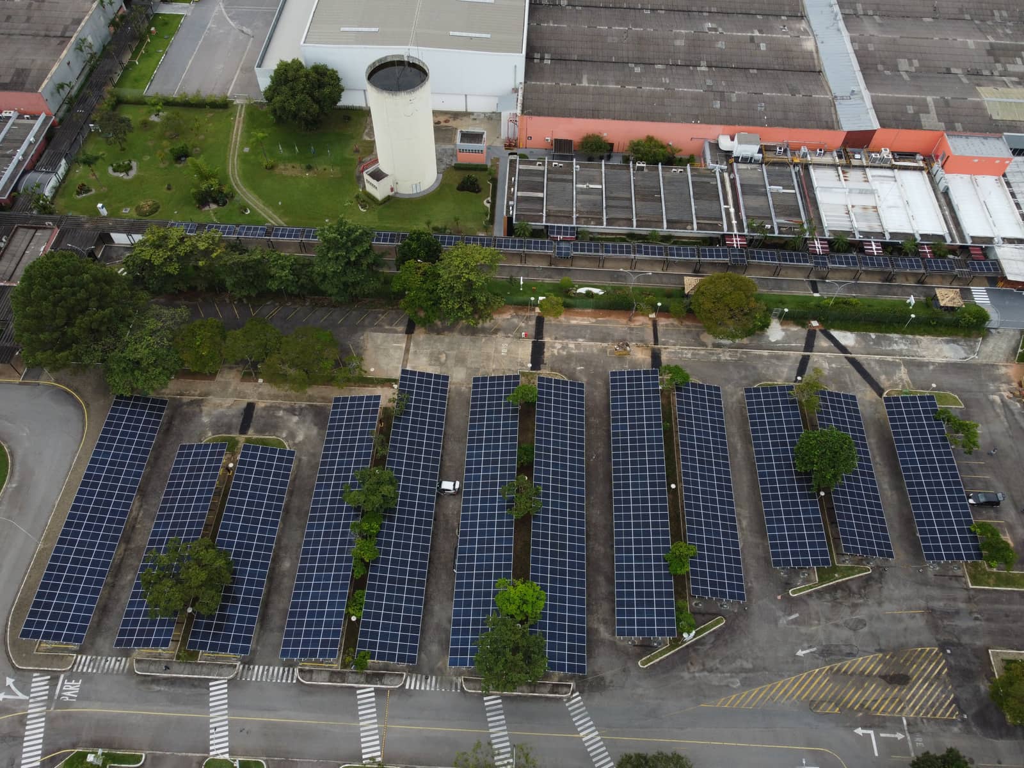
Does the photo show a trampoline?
No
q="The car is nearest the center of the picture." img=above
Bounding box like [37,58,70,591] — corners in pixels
[435,479,460,498]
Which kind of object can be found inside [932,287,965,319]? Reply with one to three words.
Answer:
gazebo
